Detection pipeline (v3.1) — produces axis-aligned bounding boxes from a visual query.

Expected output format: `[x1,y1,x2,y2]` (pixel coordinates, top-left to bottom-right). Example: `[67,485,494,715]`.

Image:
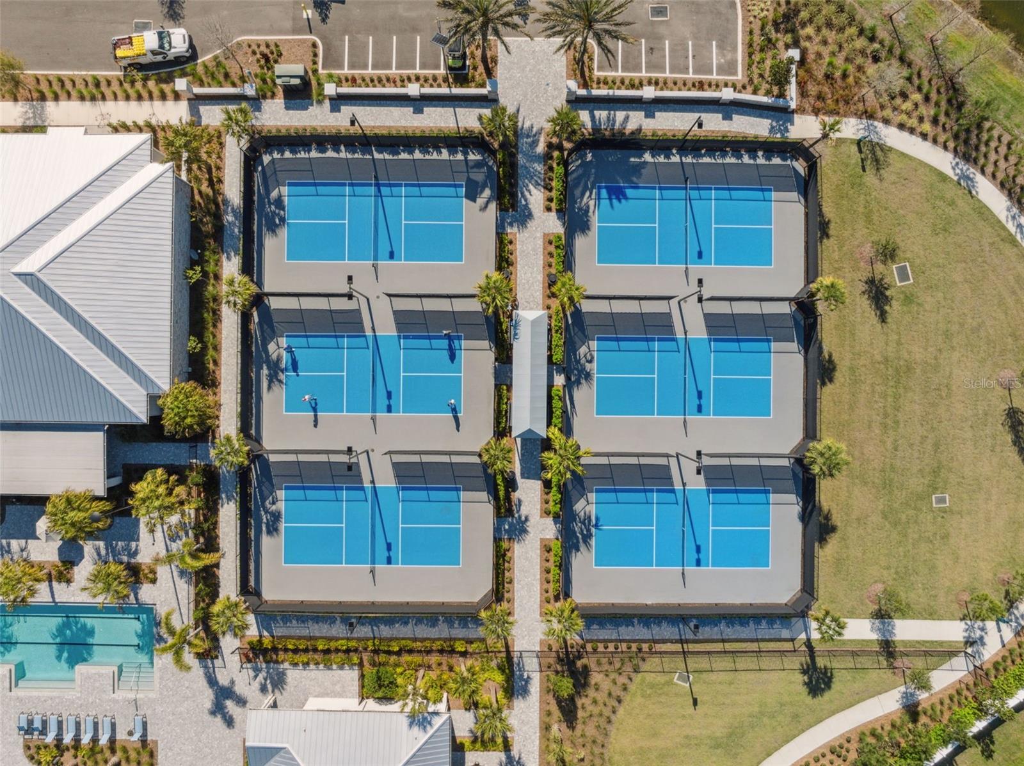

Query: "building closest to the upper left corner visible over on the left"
[0,126,192,423]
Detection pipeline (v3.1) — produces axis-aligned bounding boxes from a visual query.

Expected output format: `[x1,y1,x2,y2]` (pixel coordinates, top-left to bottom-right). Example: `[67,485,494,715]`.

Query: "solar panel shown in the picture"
[430,28,450,47]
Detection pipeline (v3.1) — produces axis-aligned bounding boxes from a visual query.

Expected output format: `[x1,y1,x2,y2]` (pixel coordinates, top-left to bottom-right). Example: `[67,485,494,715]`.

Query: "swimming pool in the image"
[0,600,157,699]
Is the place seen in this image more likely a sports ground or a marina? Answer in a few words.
sports ground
